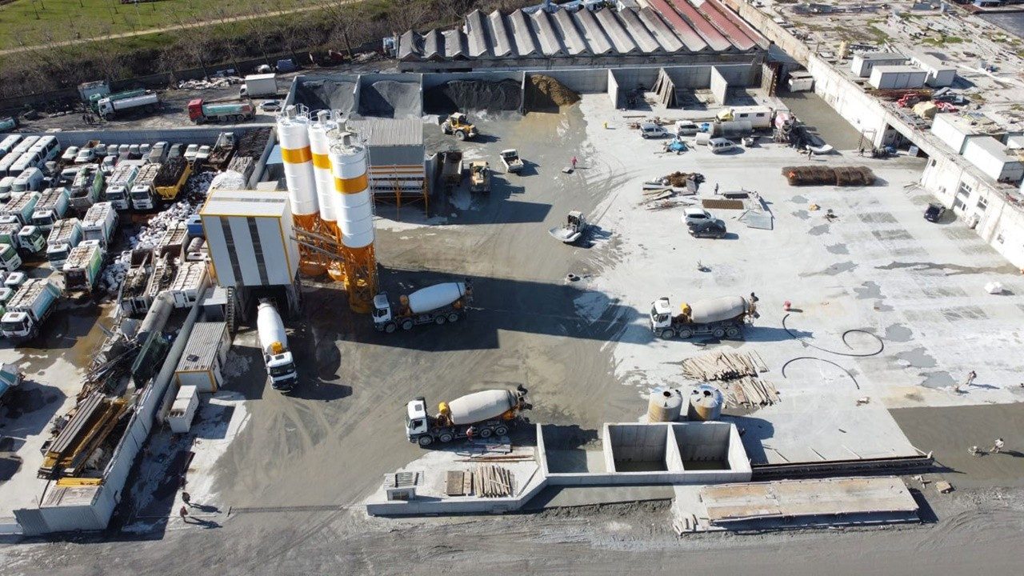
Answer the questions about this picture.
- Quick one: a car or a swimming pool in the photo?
car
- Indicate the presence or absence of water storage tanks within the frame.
Yes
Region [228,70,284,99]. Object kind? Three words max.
truck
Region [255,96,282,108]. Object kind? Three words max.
vehicle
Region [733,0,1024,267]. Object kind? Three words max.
building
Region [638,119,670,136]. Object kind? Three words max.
vehicle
